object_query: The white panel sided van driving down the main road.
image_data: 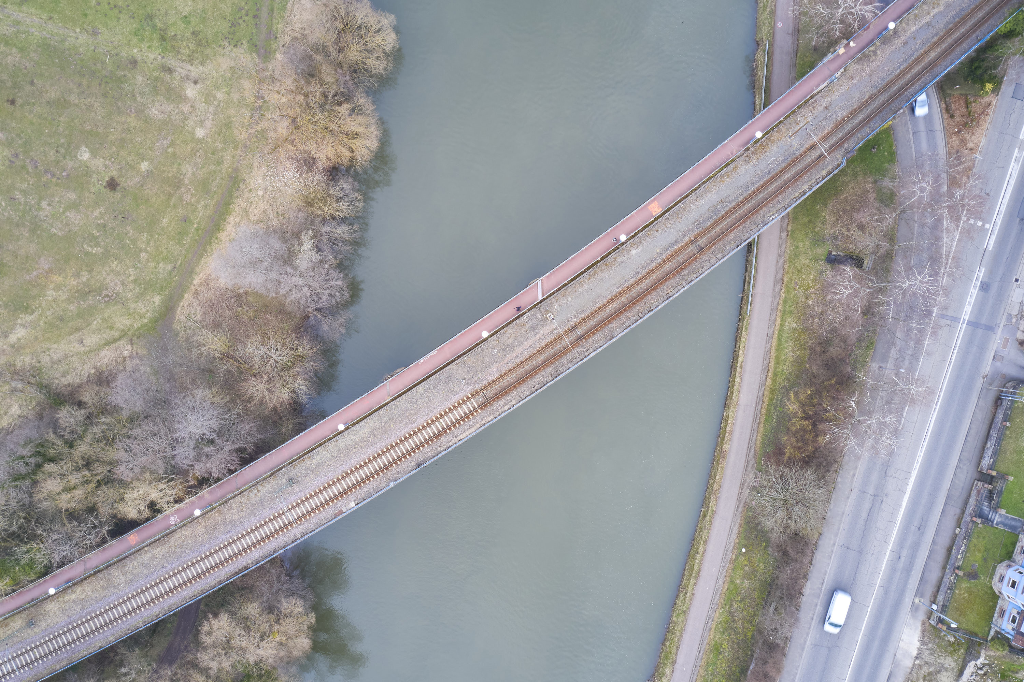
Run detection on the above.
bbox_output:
[822,592,851,632]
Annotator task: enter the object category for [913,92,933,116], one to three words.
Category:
car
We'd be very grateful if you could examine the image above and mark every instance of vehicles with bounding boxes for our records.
[913,92,933,116]
[822,592,851,632]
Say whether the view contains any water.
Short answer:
Yes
